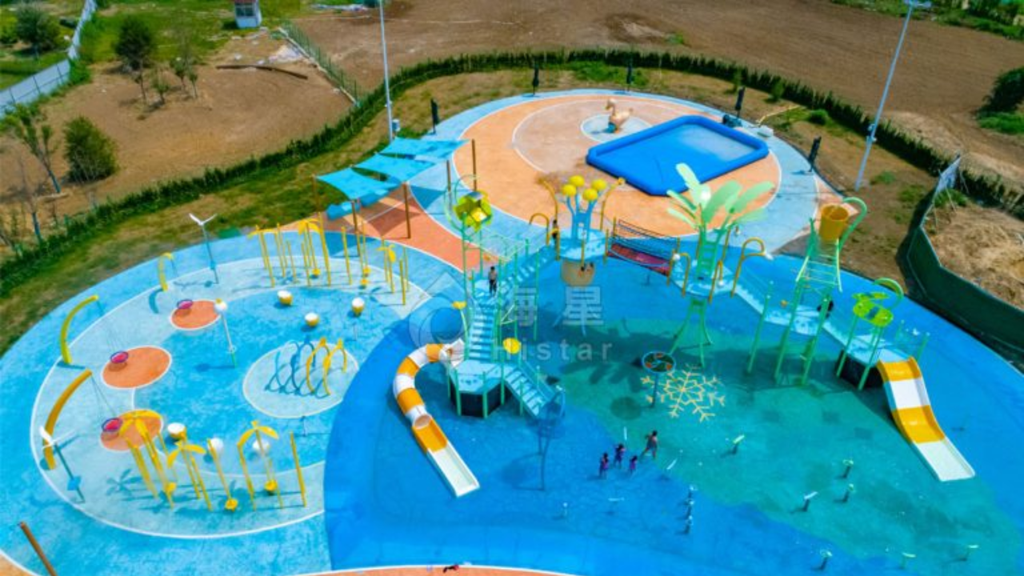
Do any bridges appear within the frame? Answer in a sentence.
Yes, I can see a bridge in this picture.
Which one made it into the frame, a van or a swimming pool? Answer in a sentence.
I can see a swimming pool in this picture.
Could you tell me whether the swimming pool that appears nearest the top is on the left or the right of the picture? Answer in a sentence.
It is on the right.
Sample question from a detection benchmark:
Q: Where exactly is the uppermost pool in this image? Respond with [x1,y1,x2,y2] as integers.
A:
[592,112,767,194]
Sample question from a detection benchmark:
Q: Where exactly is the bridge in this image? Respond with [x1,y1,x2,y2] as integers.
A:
[602,221,682,287]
